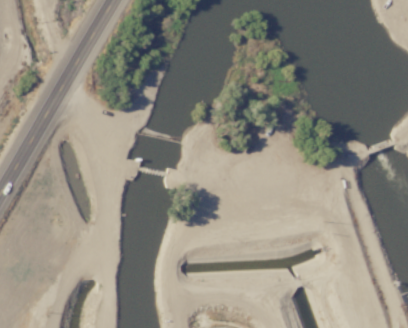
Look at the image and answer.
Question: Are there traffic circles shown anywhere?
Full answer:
No, there is no traffic circle in the image.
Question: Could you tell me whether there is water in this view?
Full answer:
Yes, there is water in the image.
